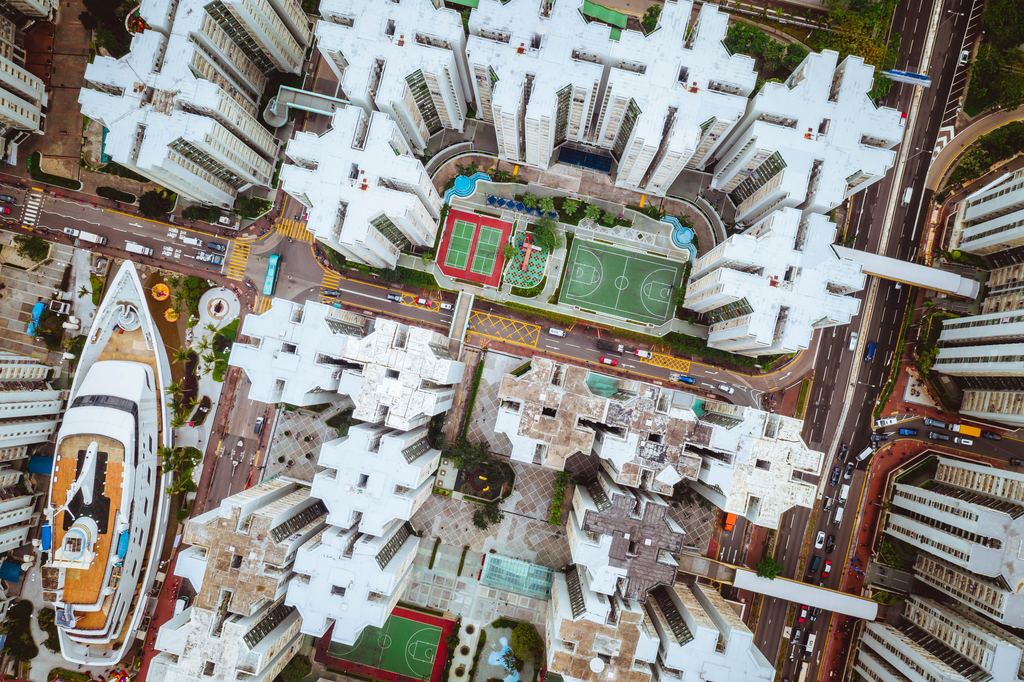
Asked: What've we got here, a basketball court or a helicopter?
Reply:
basketball court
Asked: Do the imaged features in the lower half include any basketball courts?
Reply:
Yes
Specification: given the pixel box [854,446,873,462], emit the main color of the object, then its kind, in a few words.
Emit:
white vehicle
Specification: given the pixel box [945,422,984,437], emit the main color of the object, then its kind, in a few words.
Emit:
orange vehicle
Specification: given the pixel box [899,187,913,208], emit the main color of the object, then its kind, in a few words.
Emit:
white vehicle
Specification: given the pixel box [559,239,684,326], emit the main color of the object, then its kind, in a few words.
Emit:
green basketball court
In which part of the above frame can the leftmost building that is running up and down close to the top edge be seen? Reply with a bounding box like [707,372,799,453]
[0,29,55,159]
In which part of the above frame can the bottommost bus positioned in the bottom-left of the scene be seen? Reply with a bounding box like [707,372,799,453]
[173,593,193,620]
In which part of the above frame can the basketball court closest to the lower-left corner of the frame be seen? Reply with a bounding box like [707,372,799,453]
[314,607,455,682]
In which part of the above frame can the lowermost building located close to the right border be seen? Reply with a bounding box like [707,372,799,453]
[849,584,1024,682]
